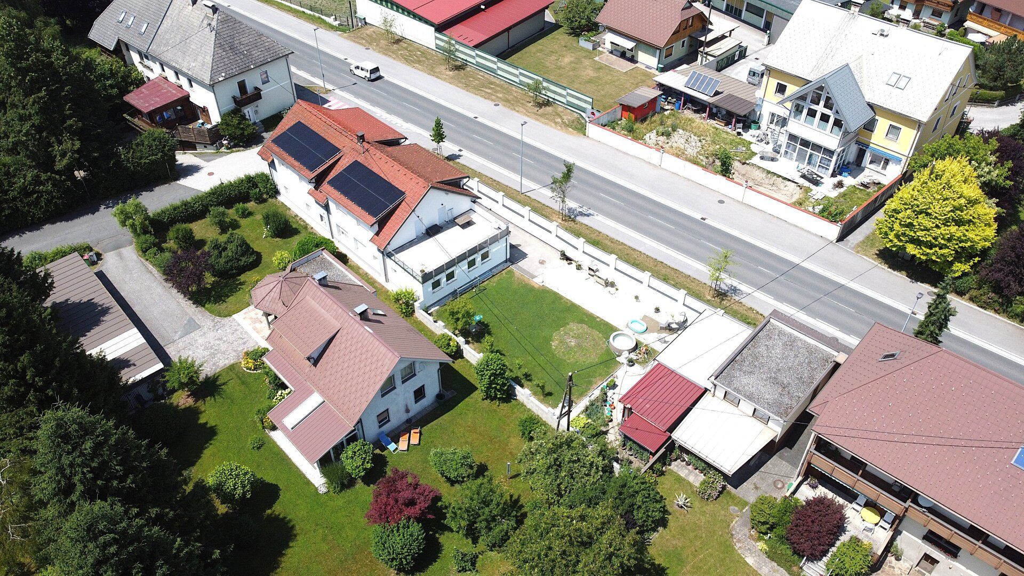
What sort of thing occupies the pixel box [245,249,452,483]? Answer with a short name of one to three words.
house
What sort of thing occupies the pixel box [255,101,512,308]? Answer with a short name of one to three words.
house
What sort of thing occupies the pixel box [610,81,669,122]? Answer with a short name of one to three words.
shed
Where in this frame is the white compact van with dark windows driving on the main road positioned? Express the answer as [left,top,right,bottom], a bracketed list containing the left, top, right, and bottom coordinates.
[349,60,380,79]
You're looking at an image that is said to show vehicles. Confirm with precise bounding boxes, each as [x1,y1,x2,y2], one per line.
[349,60,380,79]
[749,65,765,82]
